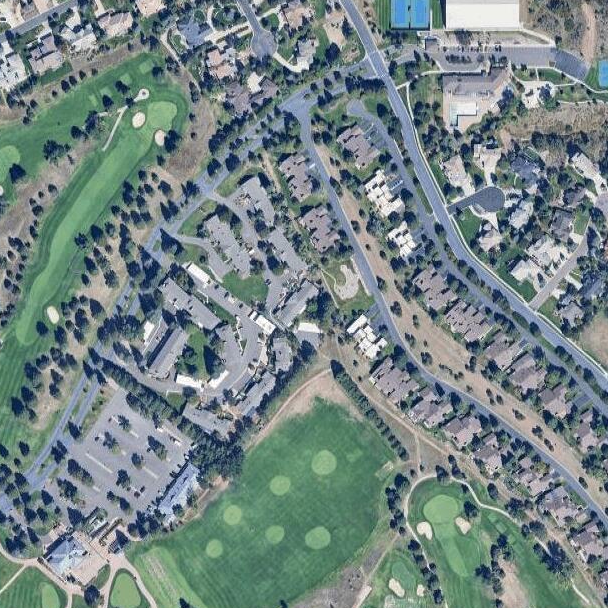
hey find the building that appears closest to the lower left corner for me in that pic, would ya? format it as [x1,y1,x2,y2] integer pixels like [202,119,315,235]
[39,535,88,582]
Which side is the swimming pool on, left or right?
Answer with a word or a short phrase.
right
